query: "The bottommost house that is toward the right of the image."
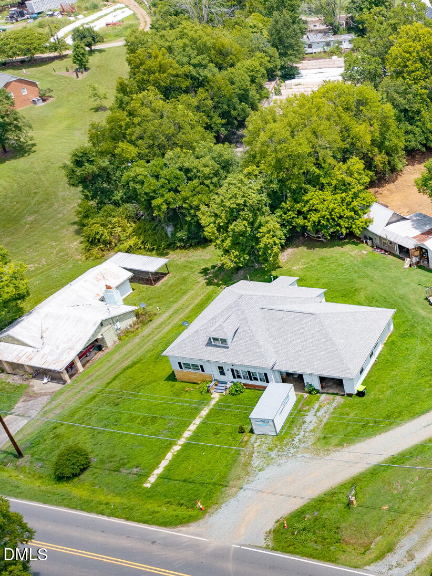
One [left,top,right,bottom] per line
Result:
[162,274,397,399]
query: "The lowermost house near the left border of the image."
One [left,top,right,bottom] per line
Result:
[0,260,141,387]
